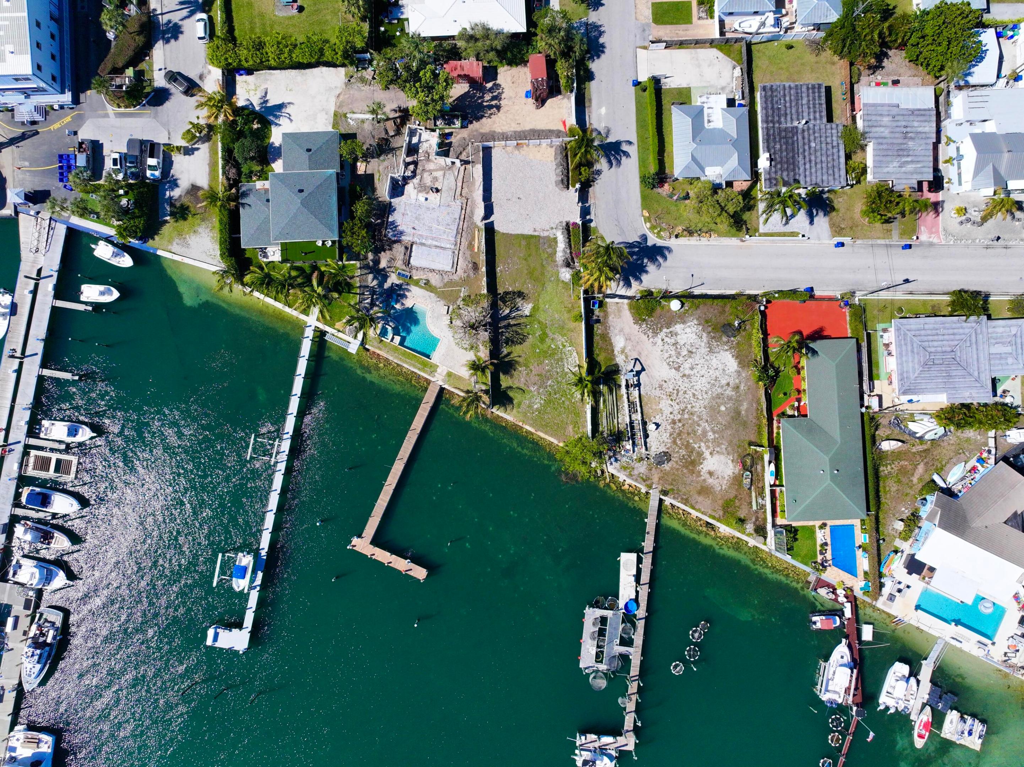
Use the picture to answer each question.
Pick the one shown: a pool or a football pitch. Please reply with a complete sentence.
It is a pool that can be seen here.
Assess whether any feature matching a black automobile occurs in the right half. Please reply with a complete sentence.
Yes, a black automobile is visible in the right half.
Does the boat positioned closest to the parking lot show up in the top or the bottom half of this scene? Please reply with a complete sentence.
You can find the boat positioned closest to the parking lot in the top half.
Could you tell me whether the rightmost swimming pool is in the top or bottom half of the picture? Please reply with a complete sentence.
The rightmost swimming pool sits in the bottom half of the picture.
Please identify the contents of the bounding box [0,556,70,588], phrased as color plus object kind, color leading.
white boat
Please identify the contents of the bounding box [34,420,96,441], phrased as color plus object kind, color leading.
white boat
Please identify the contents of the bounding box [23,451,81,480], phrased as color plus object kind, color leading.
white ship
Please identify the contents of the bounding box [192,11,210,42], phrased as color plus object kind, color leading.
white car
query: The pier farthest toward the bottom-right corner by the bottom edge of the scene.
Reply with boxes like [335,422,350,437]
[938,708,986,749]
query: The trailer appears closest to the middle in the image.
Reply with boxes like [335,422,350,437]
[622,367,647,457]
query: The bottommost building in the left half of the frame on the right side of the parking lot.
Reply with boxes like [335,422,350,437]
[240,131,345,265]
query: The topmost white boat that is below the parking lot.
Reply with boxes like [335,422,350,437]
[88,240,135,266]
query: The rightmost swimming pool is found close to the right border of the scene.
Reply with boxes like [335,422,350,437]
[913,585,1010,645]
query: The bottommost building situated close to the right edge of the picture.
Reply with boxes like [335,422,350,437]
[908,461,1024,605]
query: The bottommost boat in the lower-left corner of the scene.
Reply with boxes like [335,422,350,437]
[5,725,56,767]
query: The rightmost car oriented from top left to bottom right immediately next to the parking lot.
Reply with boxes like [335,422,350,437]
[161,70,195,98]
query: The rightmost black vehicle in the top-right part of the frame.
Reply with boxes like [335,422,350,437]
[930,167,949,192]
